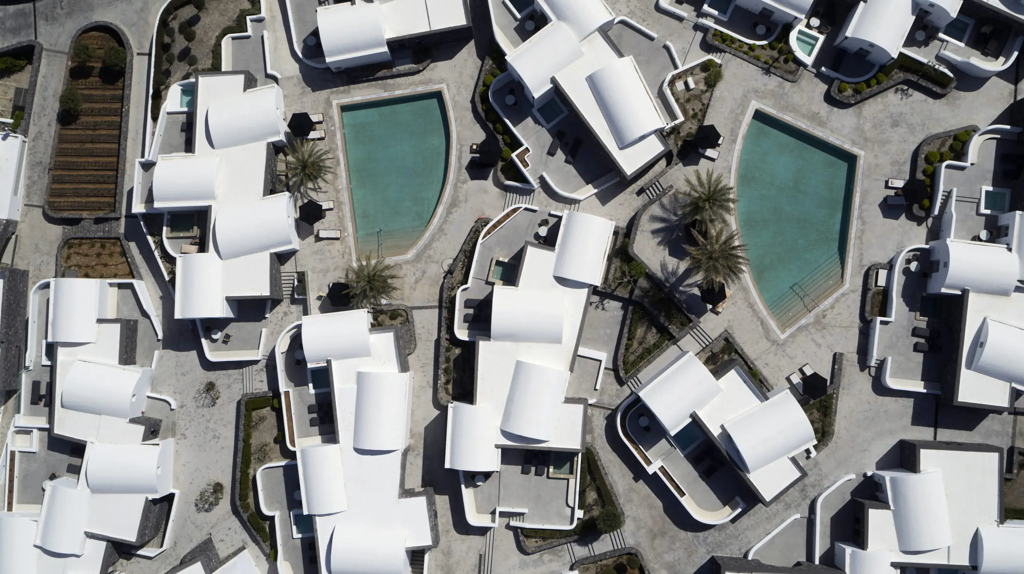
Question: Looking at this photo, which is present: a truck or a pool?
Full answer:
I can see a pool in this picture.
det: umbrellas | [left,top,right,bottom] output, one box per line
[692,125,720,151]
[479,141,505,165]
[801,372,826,400]
[328,284,354,308]
[899,178,928,205]
[699,281,725,307]
[287,113,314,137]
[299,198,322,225]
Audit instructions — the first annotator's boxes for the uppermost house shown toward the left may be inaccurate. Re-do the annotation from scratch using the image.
[317,0,474,71]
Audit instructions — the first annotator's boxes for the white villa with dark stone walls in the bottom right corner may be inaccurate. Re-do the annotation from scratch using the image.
[831,436,1024,574]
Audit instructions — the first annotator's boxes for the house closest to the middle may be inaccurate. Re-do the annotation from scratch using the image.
[445,211,615,472]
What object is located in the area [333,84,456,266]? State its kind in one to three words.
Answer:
swimming pool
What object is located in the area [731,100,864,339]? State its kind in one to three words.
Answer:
swimming pool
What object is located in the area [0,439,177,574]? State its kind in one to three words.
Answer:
house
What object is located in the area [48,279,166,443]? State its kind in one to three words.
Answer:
house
